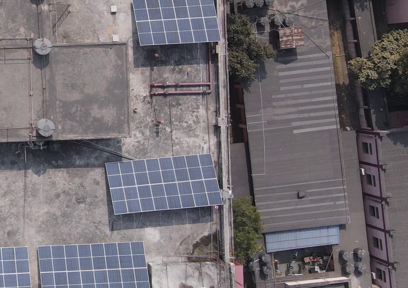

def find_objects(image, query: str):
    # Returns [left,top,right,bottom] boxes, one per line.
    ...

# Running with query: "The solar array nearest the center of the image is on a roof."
[105,154,222,215]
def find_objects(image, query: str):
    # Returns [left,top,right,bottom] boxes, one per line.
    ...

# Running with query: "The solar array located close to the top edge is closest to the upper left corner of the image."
[132,0,220,45]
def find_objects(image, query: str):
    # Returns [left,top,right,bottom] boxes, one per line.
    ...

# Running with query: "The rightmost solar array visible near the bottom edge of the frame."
[37,242,150,288]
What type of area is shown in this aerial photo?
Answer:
industrial area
